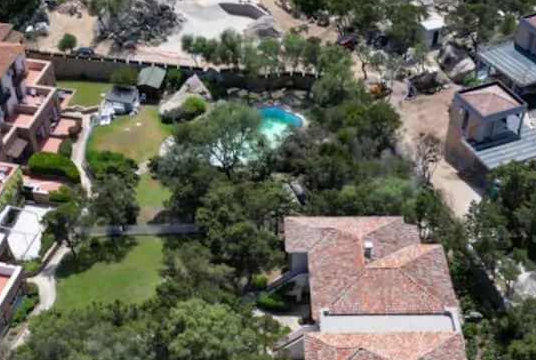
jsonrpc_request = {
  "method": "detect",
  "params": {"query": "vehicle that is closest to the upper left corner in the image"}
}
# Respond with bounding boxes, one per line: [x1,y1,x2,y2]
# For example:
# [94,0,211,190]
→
[73,39,103,54]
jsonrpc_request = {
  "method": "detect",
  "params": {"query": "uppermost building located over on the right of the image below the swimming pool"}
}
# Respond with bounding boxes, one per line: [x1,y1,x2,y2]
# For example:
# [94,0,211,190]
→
[269,216,465,334]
